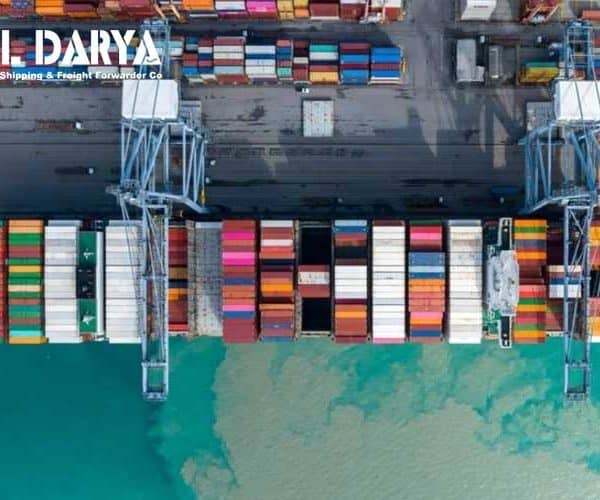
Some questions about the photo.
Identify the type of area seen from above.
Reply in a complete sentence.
This image shows a port.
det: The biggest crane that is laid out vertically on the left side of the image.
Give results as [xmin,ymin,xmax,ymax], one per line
[107,12,215,403]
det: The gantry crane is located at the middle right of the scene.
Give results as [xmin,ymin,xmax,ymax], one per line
[511,12,600,403]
